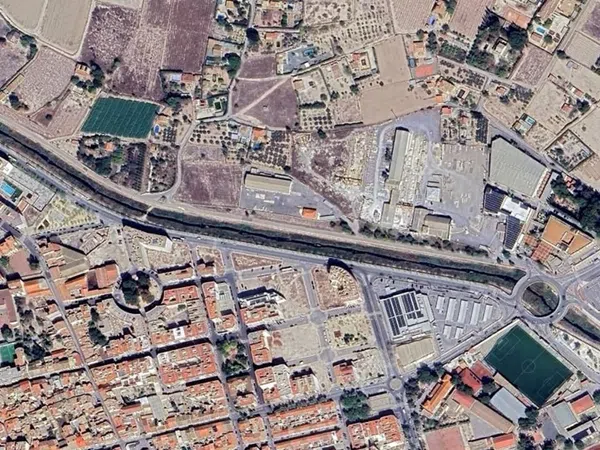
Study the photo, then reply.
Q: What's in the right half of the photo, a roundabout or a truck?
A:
roundabout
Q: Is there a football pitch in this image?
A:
Yes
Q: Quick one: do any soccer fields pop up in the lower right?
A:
Yes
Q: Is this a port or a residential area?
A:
residential area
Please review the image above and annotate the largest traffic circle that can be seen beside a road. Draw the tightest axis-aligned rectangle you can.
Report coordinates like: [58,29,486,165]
[517,274,566,323]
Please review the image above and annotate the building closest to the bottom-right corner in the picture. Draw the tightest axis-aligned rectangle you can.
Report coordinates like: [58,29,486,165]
[564,422,598,445]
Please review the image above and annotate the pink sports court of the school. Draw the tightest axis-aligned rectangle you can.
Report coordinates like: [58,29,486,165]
[426,426,465,450]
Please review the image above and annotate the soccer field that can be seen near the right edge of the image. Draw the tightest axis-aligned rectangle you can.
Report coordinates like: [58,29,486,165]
[473,319,579,411]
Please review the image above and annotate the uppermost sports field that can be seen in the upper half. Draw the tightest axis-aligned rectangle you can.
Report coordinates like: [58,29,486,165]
[80,96,161,139]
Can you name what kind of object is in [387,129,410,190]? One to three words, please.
building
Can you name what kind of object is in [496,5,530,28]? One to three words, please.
house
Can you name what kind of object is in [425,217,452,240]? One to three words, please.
building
